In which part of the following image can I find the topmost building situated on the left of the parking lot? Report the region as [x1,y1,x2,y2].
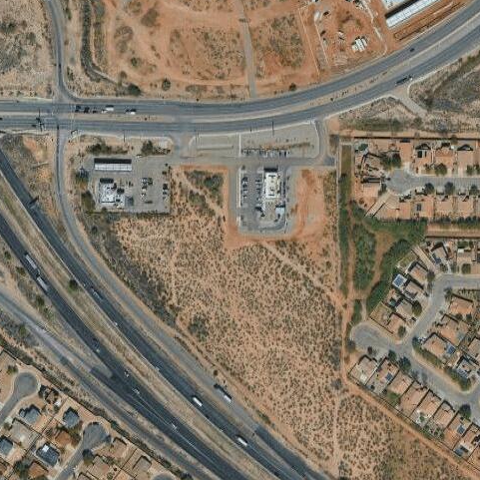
[100,183,133,208]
